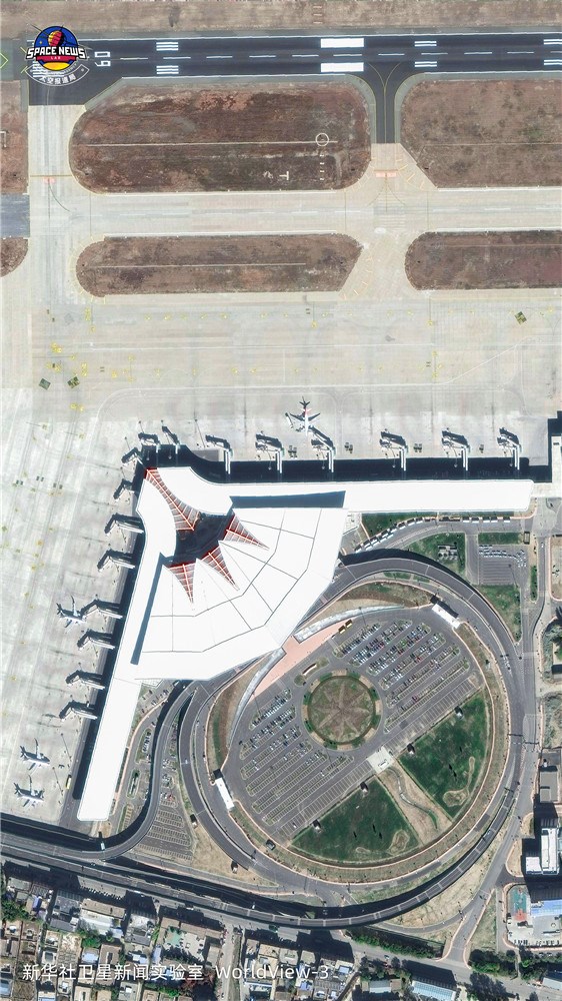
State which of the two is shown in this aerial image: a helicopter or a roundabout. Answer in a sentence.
The image shows a roundabout.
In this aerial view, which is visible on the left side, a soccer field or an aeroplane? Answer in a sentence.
There is an aeroplane on the left side.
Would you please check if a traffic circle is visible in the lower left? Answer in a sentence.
No, I can find no traffic circle in the lower left.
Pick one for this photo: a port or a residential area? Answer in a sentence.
The area seen from above is a residential area.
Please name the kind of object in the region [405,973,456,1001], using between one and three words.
building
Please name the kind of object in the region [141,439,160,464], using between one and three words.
jet bridge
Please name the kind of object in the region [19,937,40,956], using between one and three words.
house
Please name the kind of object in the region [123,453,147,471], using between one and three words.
jet bridge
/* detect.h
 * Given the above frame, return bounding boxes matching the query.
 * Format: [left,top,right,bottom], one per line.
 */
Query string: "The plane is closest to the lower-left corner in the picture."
[15,783,44,810]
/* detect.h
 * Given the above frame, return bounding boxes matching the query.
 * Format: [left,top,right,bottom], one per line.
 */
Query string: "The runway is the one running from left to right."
[0,32,562,106]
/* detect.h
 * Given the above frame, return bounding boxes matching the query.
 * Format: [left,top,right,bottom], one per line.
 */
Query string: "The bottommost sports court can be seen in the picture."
[508,887,530,922]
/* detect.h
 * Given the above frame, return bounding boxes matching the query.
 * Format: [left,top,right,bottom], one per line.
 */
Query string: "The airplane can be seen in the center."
[292,407,321,436]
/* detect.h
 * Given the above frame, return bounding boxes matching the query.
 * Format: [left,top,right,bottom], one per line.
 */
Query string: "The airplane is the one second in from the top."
[58,603,85,629]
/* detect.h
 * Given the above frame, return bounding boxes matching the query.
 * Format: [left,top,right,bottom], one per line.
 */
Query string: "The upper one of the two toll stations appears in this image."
[433,603,460,628]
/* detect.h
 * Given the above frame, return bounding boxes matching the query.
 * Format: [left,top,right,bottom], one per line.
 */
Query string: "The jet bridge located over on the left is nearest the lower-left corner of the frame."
[61,703,102,721]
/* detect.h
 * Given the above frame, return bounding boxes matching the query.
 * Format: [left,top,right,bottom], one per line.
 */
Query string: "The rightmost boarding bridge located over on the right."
[497,438,518,477]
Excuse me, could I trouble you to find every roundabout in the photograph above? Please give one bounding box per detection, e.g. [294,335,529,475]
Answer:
[300,669,382,751]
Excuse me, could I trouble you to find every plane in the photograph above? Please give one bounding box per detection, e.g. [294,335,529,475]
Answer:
[292,407,321,436]
[58,603,85,629]
[21,746,50,774]
[15,783,44,810]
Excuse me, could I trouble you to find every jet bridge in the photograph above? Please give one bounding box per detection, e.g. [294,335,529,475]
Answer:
[380,440,406,477]
[256,442,281,479]
[164,431,179,464]
[106,515,145,536]
[66,671,109,691]
[141,439,160,464]
[123,453,147,471]
[497,438,518,477]
[78,631,119,651]
[206,441,231,479]
[308,427,334,479]
[97,552,139,571]
[82,600,127,621]
[61,703,102,721]
[442,440,467,477]
[113,482,141,500]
